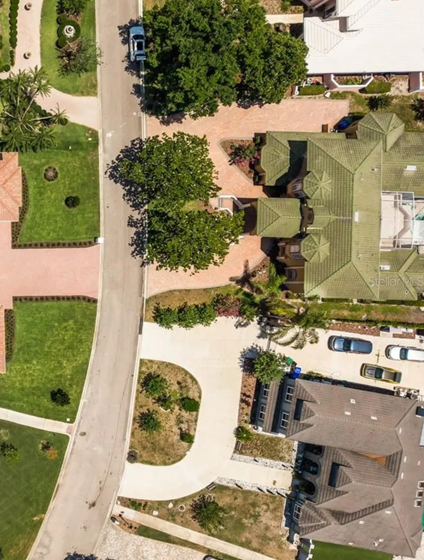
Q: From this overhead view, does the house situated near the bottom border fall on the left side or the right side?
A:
right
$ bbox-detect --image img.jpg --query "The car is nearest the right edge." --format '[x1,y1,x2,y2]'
[385,344,424,363]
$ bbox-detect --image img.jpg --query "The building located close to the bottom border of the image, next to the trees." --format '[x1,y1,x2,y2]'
[254,377,424,560]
